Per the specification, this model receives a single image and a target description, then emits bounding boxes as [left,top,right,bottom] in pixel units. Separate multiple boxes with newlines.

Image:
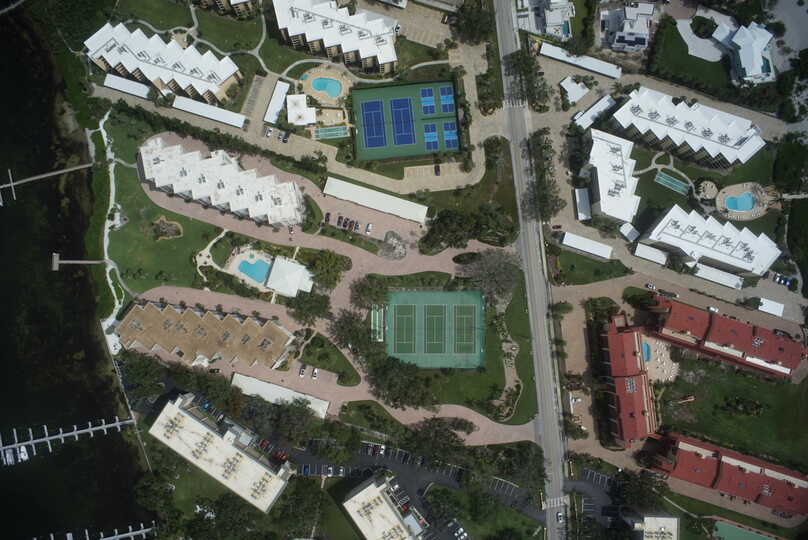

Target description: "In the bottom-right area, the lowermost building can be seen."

[630,511,681,540]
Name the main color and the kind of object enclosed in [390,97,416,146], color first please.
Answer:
blue tennis court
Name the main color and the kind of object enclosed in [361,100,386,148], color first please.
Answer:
blue tennis court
